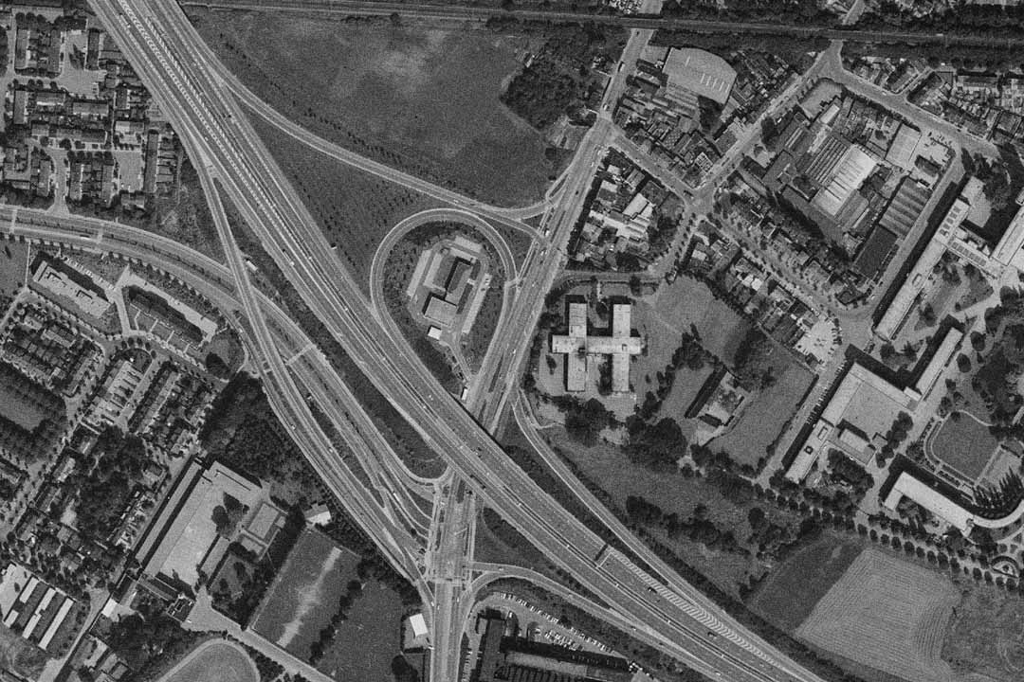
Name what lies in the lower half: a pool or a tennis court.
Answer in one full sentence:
The one visible in the lower half is a tennis court.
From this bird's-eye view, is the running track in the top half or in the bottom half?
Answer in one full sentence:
Seen from above, the running track lies in the bottom half of the view.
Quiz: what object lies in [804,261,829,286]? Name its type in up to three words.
house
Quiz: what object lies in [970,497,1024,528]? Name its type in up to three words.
building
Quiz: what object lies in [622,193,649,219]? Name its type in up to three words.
house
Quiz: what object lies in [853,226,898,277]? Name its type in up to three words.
building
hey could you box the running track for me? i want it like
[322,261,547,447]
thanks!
[163,641,259,682]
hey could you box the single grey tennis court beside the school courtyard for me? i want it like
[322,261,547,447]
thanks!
[245,501,282,543]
